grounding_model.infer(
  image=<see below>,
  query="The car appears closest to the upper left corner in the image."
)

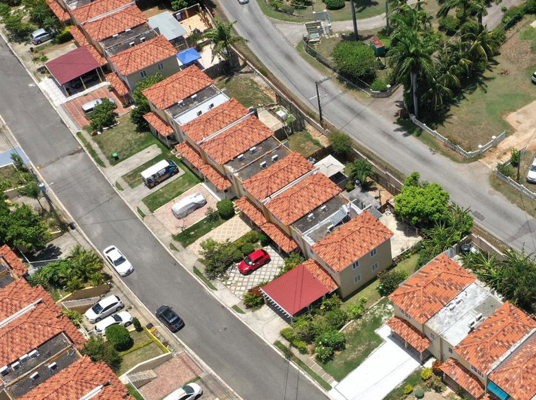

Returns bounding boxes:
[29,28,57,45]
